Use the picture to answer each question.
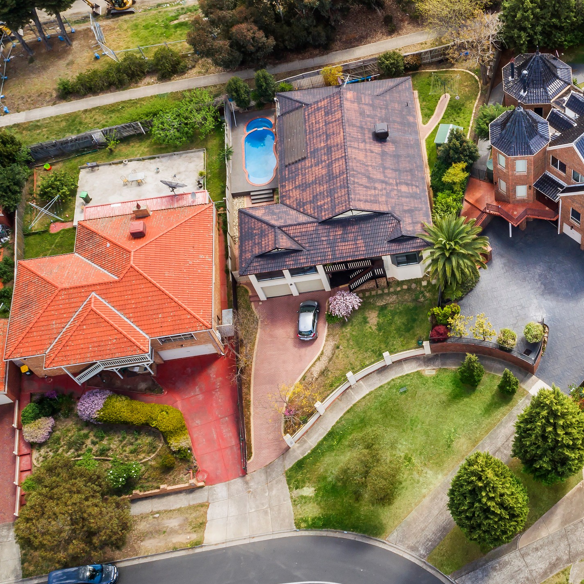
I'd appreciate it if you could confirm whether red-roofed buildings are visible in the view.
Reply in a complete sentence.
Yes, this view includes a red-roofed building.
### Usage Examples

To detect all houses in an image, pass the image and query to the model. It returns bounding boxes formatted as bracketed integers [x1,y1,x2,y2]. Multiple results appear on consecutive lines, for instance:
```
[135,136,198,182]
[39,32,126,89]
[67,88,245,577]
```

[238,71,438,300]
[439,43,584,238]
[2,196,225,392]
